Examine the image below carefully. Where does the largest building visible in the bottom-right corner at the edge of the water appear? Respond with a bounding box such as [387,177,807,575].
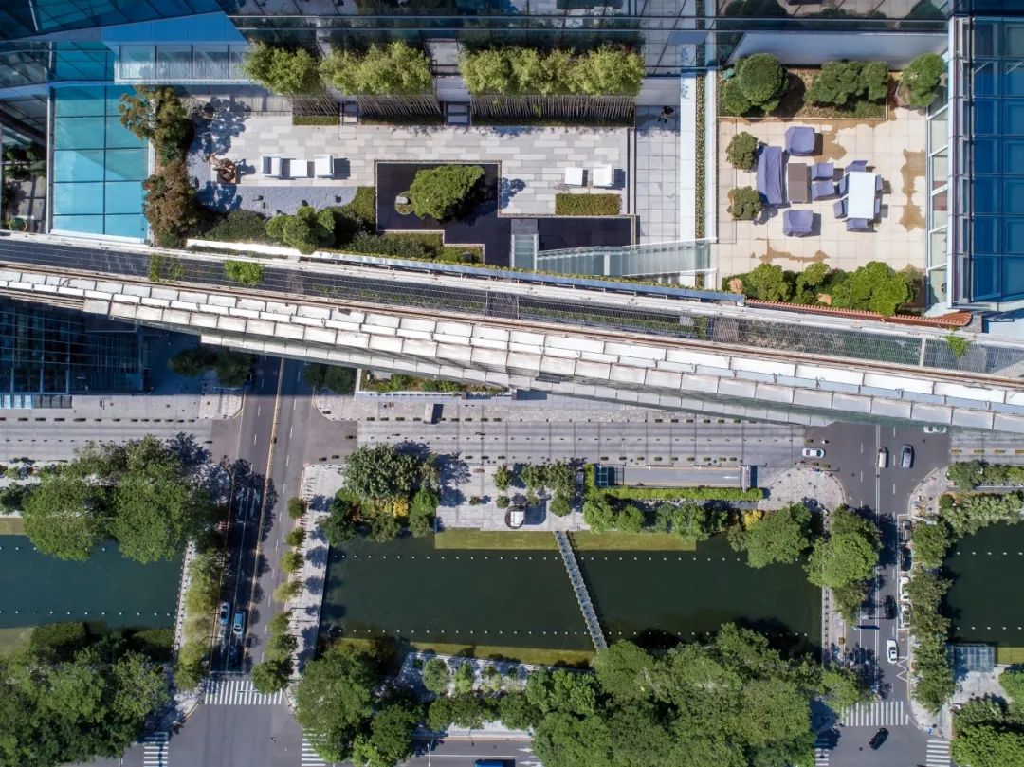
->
[944,638,994,671]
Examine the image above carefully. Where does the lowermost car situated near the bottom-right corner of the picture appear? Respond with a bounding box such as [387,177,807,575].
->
[869,727,888,750]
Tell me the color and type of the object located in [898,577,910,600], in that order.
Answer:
white vehicle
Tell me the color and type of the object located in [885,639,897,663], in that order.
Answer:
white vehicle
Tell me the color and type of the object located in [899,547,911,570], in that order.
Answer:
black vehicle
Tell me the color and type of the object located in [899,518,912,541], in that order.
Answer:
gray vehicle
